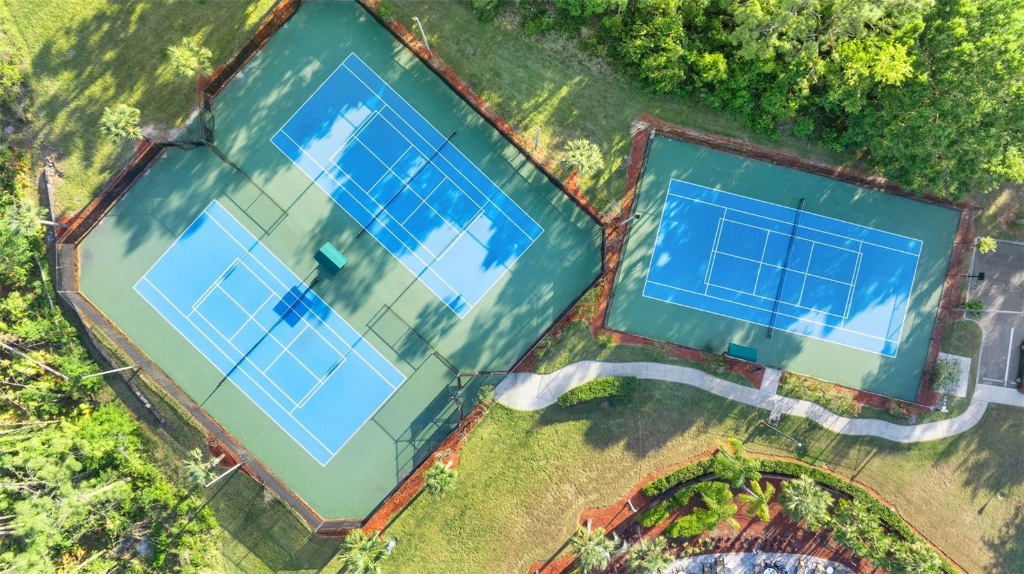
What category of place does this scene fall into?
sports ground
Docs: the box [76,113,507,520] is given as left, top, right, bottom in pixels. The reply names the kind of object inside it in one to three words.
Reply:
tennis court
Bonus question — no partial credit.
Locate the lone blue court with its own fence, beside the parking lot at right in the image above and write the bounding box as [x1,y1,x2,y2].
[605,134,962,403]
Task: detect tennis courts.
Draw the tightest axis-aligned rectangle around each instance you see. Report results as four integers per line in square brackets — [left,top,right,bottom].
[605,134,962,403]
[76,113,507,520]
[213,0,604,373]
